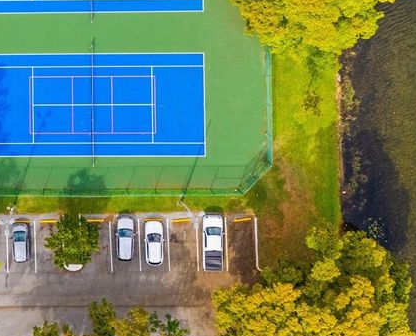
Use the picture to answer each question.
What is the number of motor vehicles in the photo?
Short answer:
4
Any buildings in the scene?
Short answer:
No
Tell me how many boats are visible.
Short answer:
0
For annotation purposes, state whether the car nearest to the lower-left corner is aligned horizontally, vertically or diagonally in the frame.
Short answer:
vertically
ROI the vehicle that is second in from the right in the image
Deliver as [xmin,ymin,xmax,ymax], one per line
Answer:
[144,219,166,266]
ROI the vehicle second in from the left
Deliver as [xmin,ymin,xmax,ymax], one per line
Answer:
[115,215,136,262]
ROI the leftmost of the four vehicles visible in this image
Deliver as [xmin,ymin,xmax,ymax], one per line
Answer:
[10,220,31,263]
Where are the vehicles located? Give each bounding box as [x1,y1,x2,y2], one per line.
[10,220,31,263]
[201,213,225,271]
[144,219,166,266]
[115,215,136,262]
